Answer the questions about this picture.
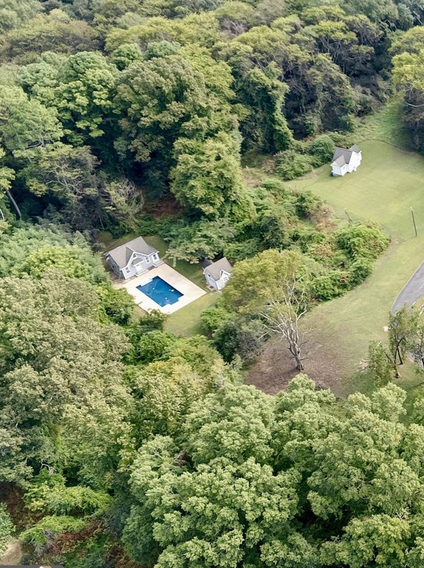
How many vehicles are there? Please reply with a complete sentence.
I count no vehicles.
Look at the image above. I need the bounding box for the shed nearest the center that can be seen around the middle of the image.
[202,255,240,291]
